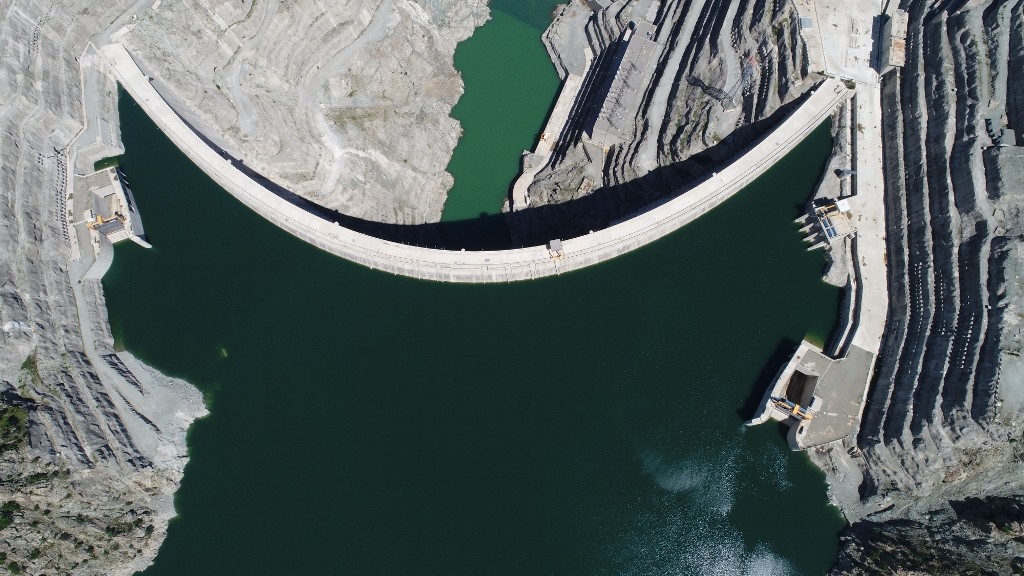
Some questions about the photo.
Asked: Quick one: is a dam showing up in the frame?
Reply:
Yes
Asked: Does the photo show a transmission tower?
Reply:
Yes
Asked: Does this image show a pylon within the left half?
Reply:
No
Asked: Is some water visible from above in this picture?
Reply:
Yes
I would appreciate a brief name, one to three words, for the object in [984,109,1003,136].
shed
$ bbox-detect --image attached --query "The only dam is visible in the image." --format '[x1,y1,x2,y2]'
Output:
[99,41,848,283]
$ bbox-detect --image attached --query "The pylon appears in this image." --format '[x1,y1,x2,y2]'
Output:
[716,70,762,114]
